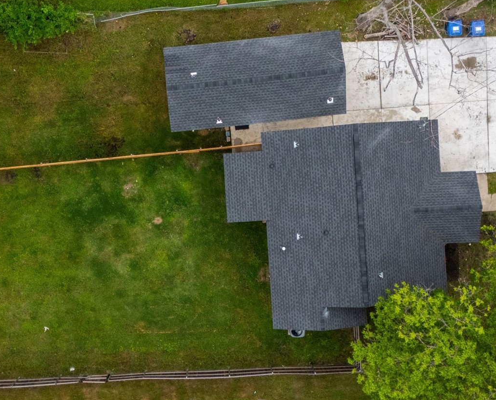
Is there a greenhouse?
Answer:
No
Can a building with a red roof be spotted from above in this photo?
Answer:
No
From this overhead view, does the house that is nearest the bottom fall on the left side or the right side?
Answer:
right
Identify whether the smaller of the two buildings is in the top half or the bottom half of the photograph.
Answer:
top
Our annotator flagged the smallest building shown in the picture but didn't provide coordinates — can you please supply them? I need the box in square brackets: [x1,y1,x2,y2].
[164,31,347,133]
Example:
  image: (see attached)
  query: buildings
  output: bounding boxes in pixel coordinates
[164,31,347,133]
[223,116,485,332]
